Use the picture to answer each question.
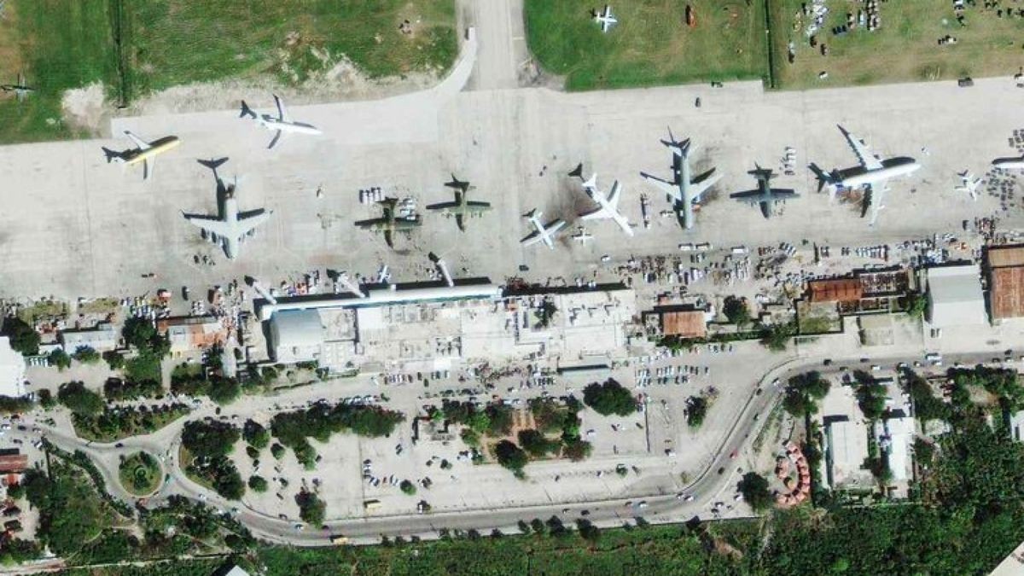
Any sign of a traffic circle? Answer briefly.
Yes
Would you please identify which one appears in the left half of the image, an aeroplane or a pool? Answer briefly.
aeroplane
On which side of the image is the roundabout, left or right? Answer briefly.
left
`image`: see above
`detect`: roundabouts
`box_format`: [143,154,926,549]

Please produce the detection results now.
[105,439,175,509]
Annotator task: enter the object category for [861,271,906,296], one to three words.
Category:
building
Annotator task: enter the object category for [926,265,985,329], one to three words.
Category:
hangar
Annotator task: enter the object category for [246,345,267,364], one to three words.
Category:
house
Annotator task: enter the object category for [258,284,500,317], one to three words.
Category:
building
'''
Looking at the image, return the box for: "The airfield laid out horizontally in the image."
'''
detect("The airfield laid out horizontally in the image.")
[0,0,1024,307]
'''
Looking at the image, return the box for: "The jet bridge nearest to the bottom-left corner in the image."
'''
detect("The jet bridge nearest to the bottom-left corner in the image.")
[250,279,278,304]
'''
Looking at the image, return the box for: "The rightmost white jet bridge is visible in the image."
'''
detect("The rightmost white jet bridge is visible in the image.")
[434,257,456,287]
